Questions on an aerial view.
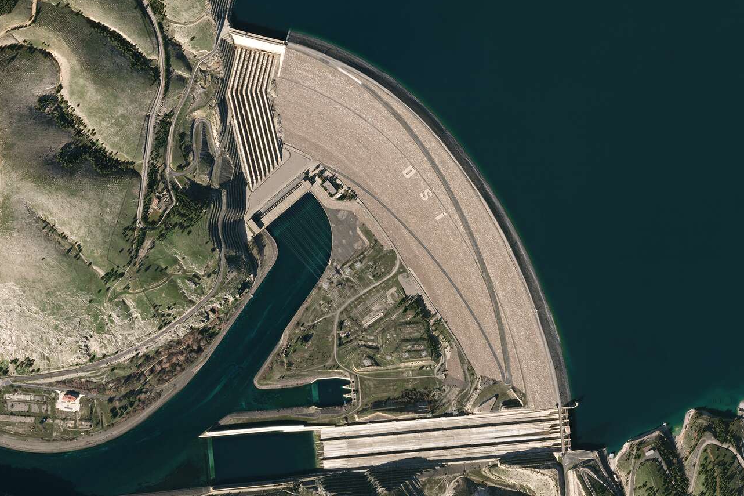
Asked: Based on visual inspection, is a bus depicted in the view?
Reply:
No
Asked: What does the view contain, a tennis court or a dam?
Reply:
dam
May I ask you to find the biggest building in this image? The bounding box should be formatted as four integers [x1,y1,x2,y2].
[257,177,313,233]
